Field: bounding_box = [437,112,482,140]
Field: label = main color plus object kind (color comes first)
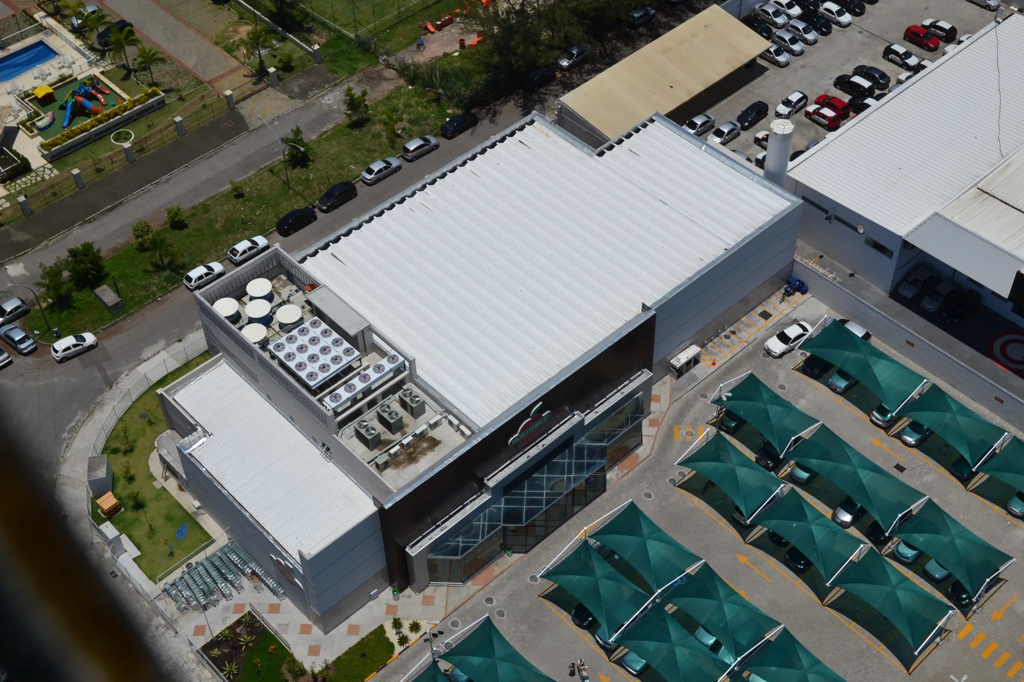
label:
black car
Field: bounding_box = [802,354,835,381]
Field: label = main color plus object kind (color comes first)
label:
black car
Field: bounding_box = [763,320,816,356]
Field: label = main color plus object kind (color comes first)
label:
white car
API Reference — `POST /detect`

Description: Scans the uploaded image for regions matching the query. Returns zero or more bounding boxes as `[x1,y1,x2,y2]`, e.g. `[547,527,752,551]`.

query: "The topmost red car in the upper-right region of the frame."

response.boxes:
[902,25,942,52]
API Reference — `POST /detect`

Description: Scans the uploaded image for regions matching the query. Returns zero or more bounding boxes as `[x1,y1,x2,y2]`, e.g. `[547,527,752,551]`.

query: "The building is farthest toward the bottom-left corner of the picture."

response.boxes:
[86,454,112,496]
